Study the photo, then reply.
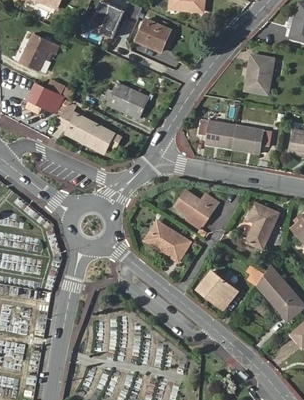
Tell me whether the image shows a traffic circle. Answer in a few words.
Yes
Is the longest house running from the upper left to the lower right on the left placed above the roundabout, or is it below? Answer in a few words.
above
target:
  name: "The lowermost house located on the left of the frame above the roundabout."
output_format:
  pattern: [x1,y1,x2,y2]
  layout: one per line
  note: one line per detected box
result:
[58,102,122,156]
